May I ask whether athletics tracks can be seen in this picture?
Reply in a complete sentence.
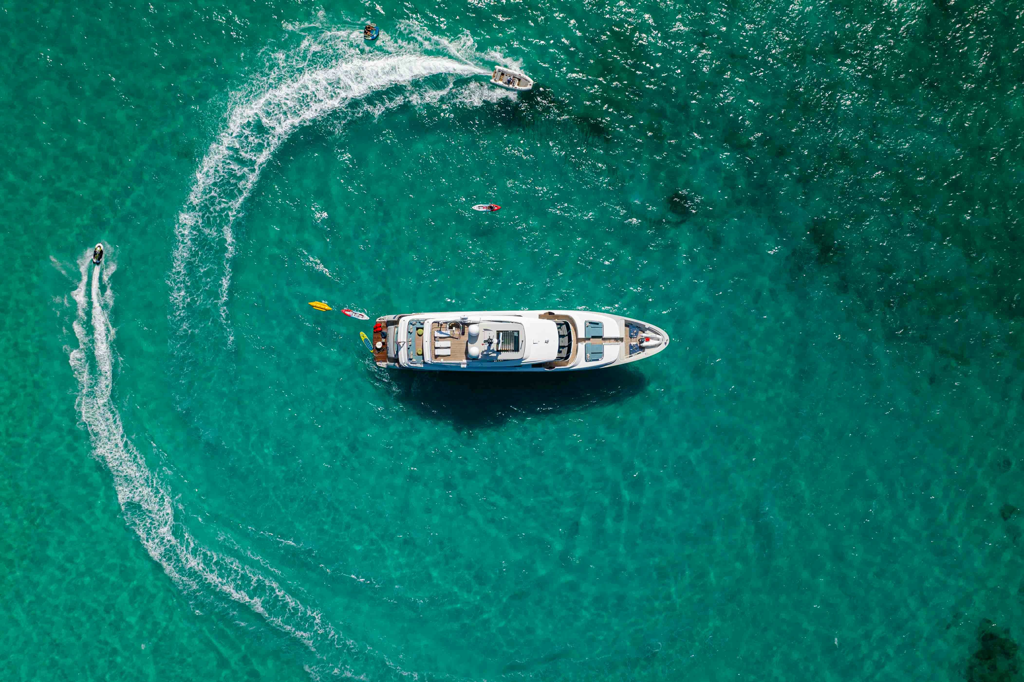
No, no athletics track is visible in the scene.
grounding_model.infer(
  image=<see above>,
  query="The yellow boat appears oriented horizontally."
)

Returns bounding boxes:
[306,300,332,312]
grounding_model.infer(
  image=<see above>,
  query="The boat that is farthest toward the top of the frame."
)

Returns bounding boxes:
[489,63,535,89]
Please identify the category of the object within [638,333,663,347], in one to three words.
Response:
boat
